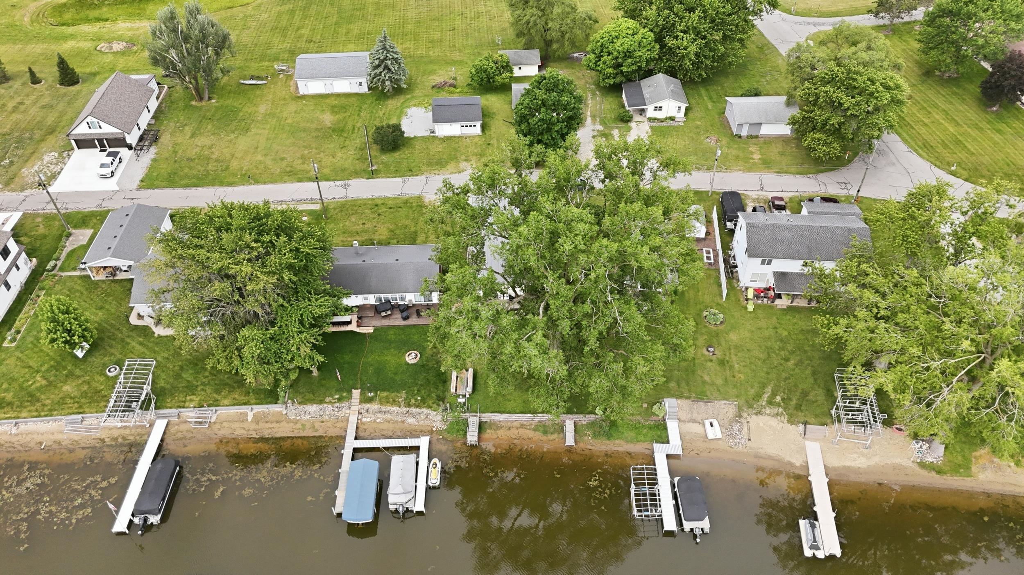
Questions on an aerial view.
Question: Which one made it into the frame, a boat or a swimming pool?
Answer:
boat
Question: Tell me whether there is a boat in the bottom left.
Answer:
Yes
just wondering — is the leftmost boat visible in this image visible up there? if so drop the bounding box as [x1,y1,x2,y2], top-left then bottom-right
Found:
[135,462,185,530]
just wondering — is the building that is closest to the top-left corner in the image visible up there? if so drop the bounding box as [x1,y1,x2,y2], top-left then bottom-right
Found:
[67,69,167,153]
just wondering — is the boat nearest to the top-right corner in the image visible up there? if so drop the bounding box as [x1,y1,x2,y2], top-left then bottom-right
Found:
[719,189,744,230]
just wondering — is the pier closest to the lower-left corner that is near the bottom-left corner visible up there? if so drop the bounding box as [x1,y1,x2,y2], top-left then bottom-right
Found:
[112,425,167,534]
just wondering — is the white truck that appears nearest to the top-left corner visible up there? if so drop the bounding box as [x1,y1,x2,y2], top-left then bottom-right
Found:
[96,150,121,176]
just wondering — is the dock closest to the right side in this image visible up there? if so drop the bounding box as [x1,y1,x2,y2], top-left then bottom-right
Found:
[808,450,848,559]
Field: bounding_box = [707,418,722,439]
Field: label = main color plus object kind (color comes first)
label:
white boat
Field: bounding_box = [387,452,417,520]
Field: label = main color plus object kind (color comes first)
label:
white boat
